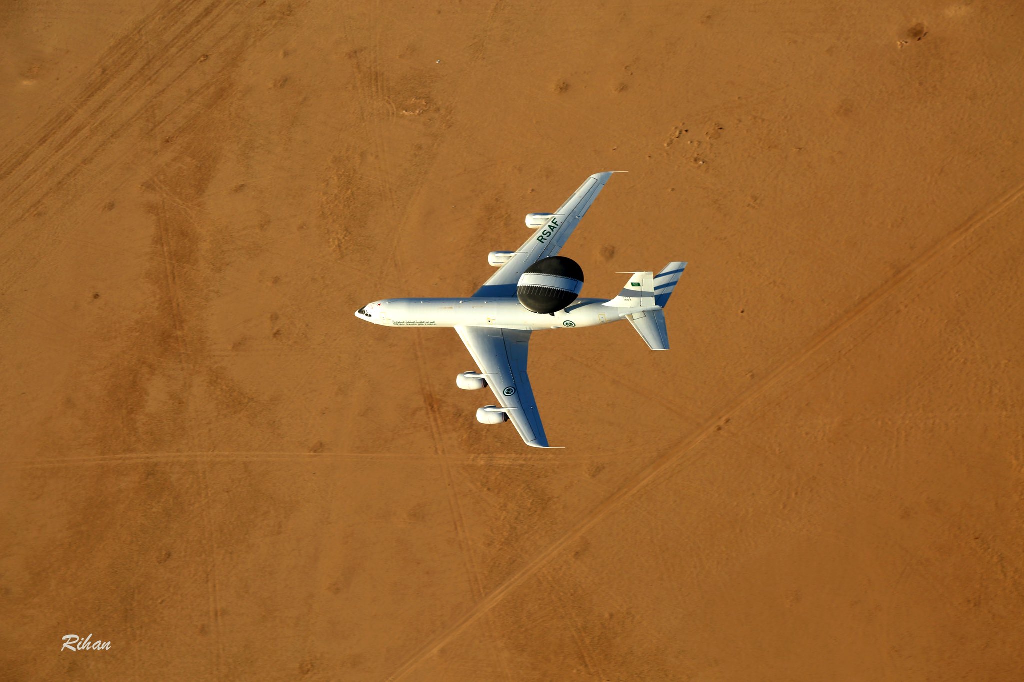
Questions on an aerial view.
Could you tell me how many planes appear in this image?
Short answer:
1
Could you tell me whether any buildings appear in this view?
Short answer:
No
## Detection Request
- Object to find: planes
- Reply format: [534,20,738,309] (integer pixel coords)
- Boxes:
[355,172,689,448]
